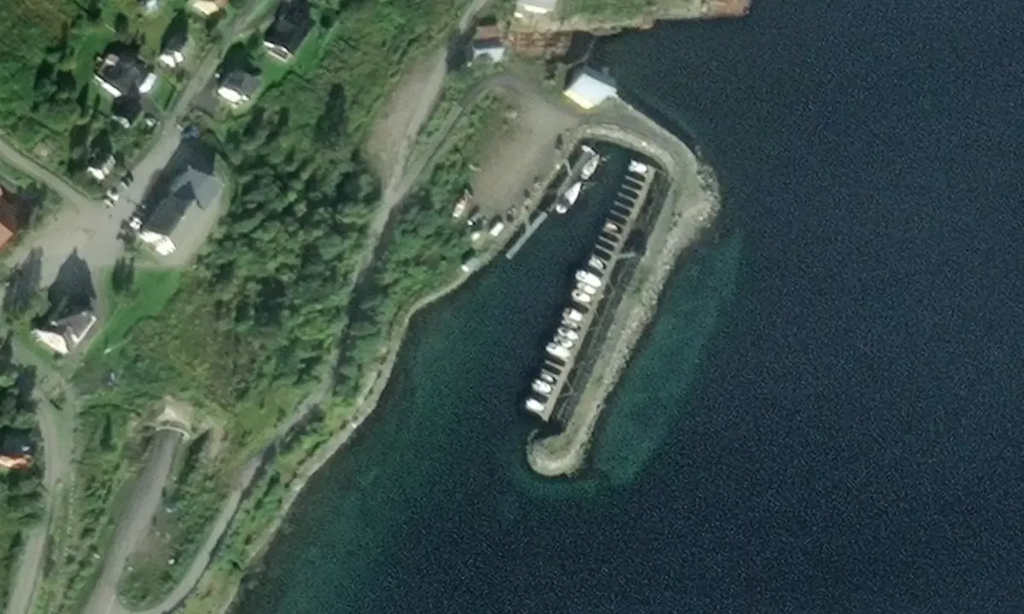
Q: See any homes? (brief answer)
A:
Yes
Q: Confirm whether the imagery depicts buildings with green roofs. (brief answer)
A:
No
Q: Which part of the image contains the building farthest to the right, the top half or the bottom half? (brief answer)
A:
top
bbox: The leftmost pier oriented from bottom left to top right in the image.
[507,212,547,259]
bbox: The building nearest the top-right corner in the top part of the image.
[564,65,612,113]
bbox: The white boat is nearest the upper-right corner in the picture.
[628,159,649,173]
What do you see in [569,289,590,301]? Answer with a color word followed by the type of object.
white boat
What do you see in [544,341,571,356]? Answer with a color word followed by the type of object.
white boat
